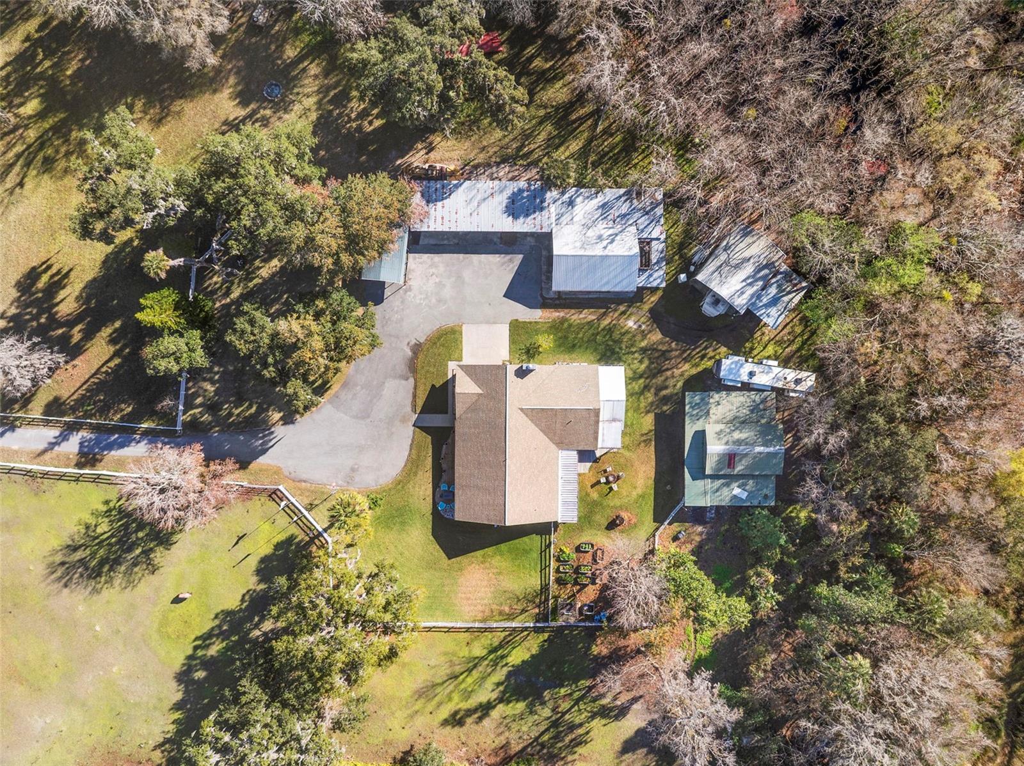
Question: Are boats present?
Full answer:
Yes, there's a boat down there.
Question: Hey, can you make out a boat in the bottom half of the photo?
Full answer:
No, I can find no boat in the bottom half of the photo.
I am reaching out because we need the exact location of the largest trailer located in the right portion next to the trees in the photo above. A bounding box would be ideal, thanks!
[702,356,819,397]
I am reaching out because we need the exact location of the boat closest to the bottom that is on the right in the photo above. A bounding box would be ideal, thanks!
[699,291,731,322]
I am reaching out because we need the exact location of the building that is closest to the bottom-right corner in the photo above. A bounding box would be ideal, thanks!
[680,391,787,507]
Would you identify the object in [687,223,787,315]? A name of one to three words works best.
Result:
shed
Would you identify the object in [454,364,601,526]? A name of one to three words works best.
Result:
house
